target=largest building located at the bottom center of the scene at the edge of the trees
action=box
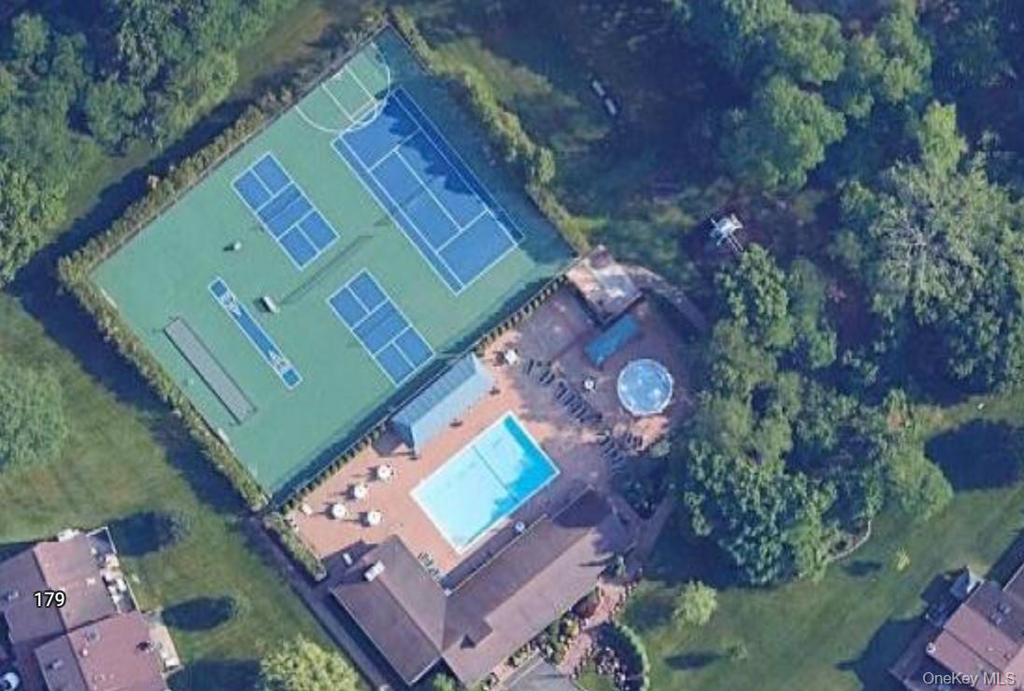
[330,484,642,690]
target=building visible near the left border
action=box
[0,527,181,691]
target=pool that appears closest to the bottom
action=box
[406,407,564,559]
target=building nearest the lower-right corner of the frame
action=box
[889,563,1024,691]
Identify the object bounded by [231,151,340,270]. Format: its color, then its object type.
blue sports court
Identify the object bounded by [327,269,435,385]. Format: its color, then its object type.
blue sports court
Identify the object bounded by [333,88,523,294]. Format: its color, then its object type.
blue tennis court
